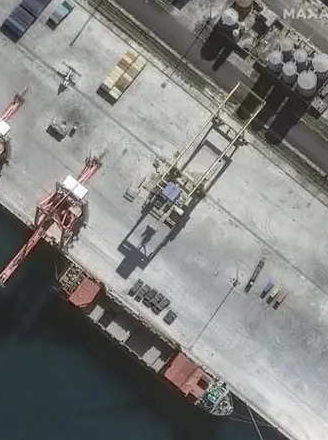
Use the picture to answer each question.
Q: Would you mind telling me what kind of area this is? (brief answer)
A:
port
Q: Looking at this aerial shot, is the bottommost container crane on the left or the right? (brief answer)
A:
left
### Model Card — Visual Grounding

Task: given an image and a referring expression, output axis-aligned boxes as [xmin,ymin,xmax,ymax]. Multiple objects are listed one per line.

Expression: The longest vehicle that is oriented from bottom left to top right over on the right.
[243,261,267,289]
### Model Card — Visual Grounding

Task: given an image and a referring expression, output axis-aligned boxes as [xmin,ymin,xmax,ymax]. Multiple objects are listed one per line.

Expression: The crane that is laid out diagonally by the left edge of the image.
[0,158,110,292]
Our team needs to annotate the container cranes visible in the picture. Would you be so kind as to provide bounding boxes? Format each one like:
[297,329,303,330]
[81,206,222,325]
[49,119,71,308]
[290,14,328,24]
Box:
[0,94,30,167]
[0,158,110,292]
[137,83,266,228]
